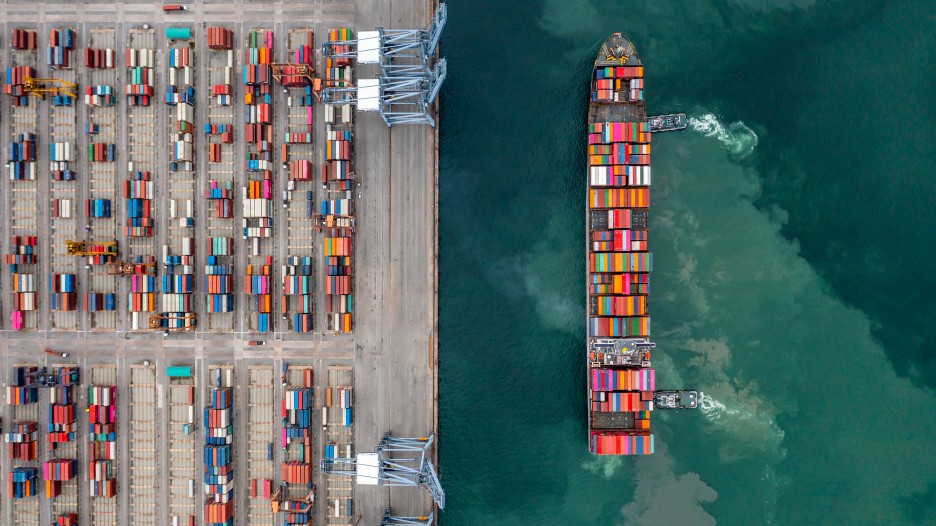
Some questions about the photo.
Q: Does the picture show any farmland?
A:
No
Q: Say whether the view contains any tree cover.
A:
No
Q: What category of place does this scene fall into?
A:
port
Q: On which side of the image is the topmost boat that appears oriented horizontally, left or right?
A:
right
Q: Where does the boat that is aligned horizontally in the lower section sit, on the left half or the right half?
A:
right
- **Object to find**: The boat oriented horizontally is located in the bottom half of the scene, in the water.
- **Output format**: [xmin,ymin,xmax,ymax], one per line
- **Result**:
[649,389,698,409]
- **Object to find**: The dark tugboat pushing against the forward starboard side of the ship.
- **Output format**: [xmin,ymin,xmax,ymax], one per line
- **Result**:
[645,113,688,134]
